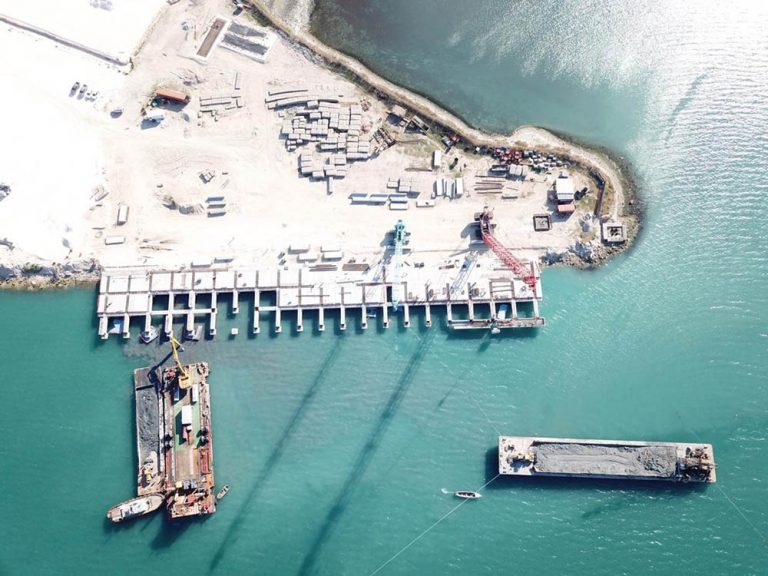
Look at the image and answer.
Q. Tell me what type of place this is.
port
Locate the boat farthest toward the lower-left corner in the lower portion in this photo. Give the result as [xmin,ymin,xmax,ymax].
[105,495,166,524]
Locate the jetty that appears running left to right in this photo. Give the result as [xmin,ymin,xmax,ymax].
[97,254,541,340]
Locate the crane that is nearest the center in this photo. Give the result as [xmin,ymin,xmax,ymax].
[387,212,410,318]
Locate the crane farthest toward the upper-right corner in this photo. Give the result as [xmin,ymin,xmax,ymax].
[472,202,541,336]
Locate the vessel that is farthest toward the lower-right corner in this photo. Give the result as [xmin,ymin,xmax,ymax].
[496,436,716,483]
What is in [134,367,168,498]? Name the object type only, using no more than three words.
ship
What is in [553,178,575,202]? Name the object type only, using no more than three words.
shed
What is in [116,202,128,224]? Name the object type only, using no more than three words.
vehicle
